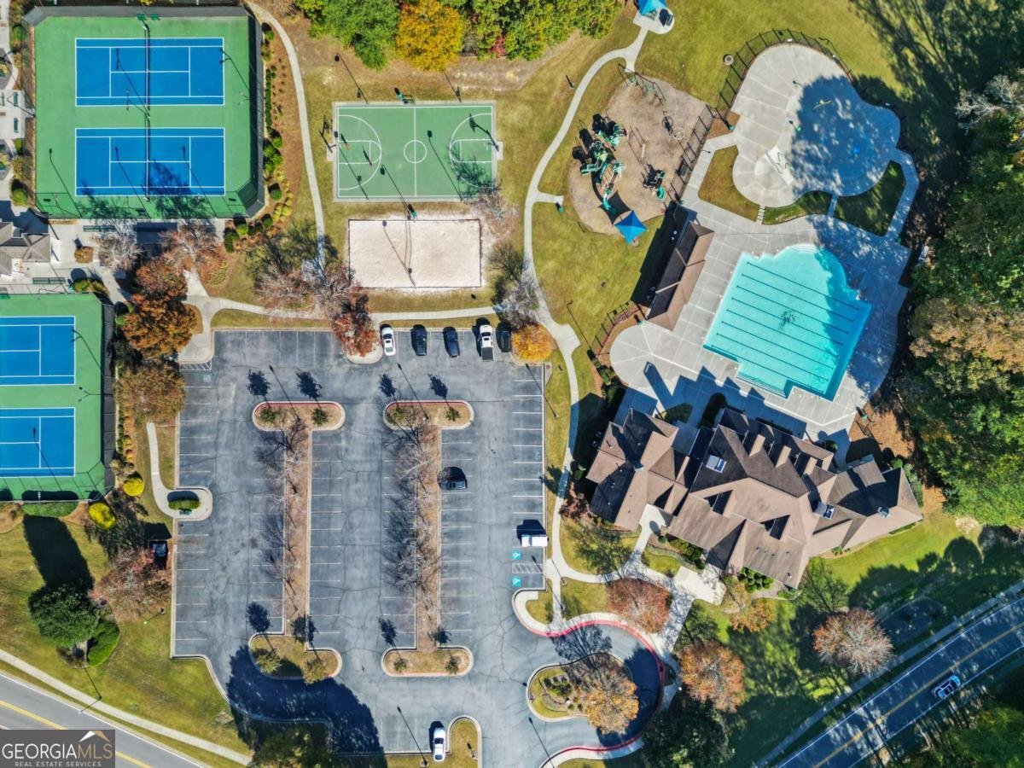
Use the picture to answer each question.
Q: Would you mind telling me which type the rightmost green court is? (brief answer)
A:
basketball court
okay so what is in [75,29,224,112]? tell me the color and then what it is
blue tennis court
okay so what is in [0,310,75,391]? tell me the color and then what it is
blue tennis court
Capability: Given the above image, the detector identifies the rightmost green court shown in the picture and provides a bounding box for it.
[327,101,503,201]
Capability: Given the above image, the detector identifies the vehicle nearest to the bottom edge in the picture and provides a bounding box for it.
[431,729,446,760]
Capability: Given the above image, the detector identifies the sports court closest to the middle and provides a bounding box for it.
[349,217,482,288]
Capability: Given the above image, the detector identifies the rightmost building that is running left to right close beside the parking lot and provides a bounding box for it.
[584,406,921,582]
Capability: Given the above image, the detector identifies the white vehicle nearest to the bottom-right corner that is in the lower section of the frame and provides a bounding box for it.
[519,536,547,550]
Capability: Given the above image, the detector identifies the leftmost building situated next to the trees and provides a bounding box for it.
[0,215,63,292]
